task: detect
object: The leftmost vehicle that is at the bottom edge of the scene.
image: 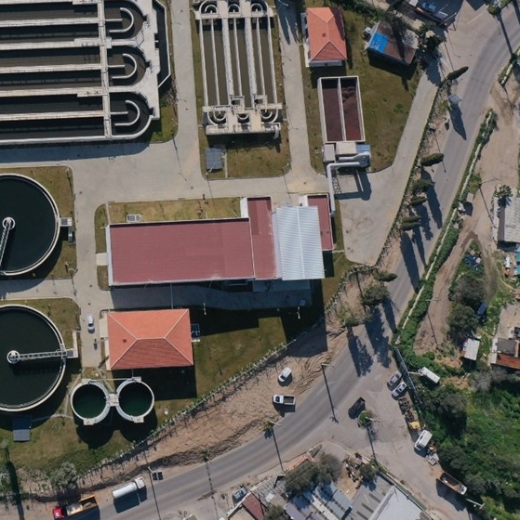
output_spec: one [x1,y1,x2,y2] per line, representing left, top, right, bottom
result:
[55,499,99,519]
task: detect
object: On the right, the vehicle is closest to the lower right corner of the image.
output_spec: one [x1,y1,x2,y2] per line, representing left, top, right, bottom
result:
[438,473,471,497]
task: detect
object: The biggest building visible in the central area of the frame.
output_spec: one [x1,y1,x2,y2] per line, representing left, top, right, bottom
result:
[104,197,312,311]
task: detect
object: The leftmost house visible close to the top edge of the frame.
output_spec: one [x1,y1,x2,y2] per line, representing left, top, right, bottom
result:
[301,7,348,66]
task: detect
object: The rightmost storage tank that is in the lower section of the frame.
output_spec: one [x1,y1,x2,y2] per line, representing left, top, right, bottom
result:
[116,376,155,423]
